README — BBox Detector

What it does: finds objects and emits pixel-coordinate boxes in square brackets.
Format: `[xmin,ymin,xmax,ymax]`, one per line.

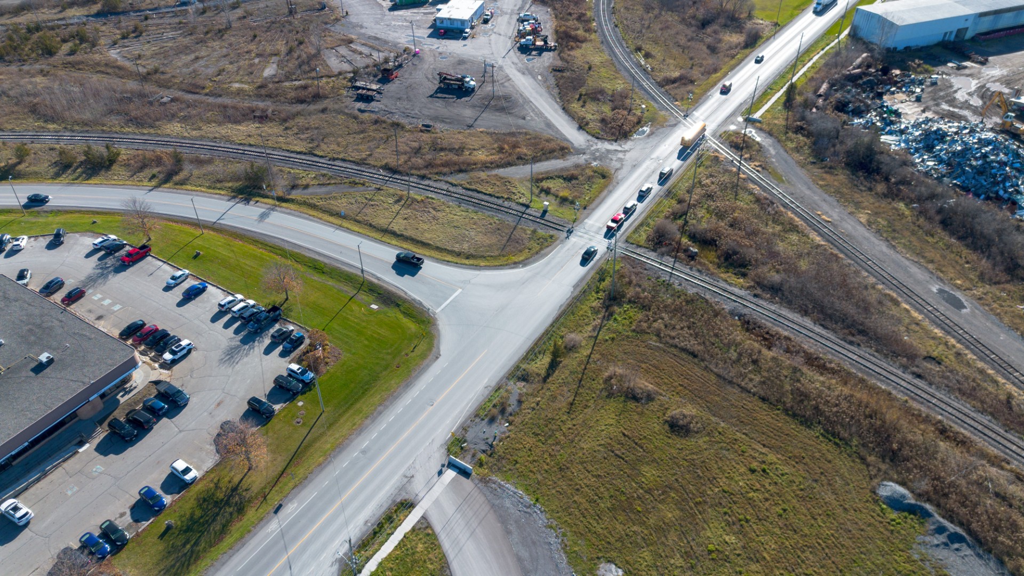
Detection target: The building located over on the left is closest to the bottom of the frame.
[0,274,145,473]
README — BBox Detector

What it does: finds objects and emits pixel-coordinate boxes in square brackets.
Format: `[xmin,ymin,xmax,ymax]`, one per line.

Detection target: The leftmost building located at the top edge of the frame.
[431,0,479,28]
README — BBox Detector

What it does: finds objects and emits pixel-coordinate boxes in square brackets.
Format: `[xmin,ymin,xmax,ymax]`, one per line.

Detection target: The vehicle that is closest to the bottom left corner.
[0,496,35,530]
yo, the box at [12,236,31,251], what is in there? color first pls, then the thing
white car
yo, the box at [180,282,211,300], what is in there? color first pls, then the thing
blue car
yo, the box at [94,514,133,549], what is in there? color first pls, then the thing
black car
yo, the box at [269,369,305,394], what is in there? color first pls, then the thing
black car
